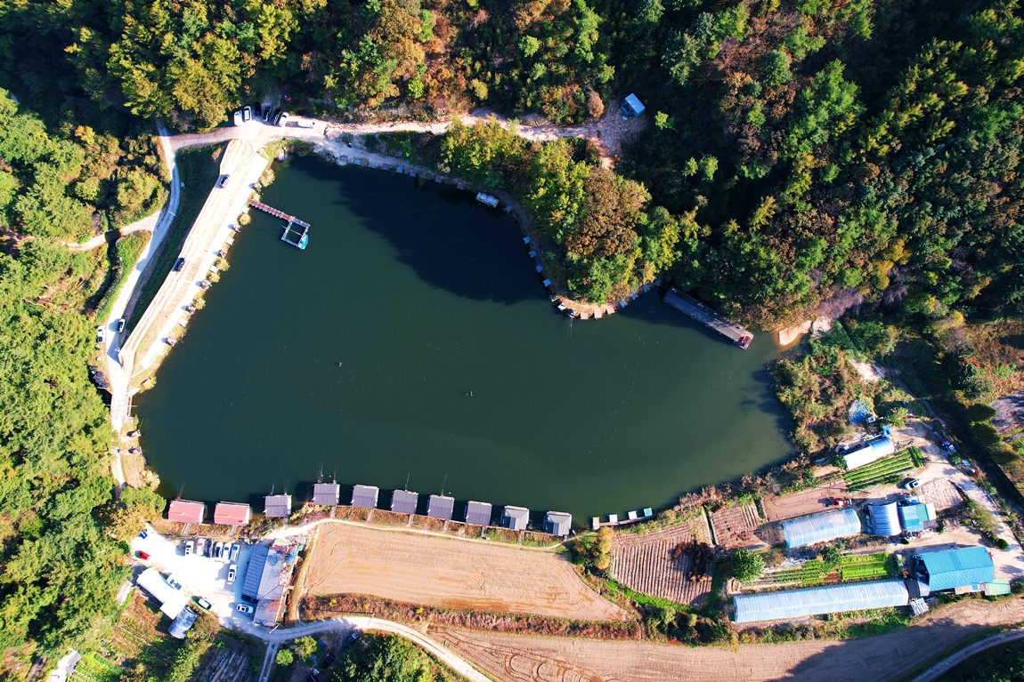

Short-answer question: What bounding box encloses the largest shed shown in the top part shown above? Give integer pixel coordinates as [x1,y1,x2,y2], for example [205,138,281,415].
[616,93,645,122]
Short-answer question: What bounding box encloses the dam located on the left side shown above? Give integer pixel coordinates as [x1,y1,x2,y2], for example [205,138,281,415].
[120,139,267,379]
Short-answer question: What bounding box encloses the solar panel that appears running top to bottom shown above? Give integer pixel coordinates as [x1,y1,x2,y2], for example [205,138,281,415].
[244,551,267,599]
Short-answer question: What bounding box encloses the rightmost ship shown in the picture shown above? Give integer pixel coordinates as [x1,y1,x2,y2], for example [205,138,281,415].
[659,285,752,350]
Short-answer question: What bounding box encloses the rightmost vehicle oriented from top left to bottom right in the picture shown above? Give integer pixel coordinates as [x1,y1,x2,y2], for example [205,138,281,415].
[943,439,960,457]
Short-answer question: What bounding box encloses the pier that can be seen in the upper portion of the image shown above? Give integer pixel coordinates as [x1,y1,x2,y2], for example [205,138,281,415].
[249,198,311,247]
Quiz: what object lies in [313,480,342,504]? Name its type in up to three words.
building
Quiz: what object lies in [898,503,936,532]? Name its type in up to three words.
house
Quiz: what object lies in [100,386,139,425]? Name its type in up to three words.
bridge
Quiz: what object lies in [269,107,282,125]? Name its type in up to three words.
vehicle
